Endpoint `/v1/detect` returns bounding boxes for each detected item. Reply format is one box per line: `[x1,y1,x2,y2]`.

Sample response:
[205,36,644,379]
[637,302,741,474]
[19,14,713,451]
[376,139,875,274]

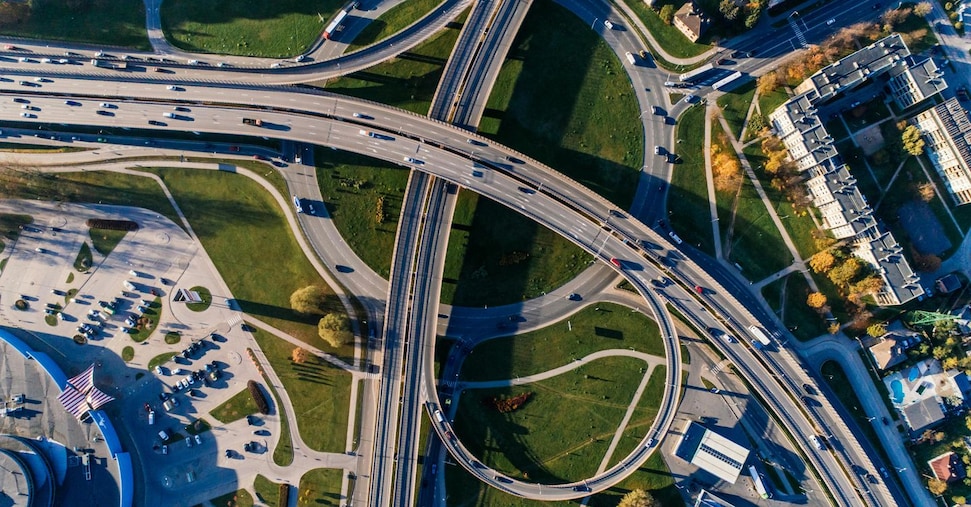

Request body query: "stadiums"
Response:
[0,319,139,507]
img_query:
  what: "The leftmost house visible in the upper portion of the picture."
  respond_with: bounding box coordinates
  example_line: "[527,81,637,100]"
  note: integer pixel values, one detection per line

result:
[672,0,712,40]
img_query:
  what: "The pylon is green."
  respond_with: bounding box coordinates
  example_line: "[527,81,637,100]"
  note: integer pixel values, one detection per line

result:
[914,311,965,325]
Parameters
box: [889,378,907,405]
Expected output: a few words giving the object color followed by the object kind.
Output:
blue swimming pool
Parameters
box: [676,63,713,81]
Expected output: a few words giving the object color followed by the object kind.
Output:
white vehicle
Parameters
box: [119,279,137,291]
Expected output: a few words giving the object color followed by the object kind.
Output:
white vehicle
